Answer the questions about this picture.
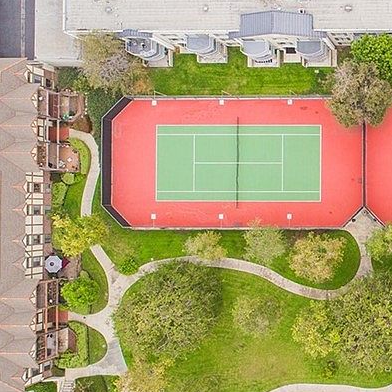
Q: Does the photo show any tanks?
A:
No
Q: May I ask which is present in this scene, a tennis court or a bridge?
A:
tennis court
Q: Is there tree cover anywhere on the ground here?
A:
Yes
